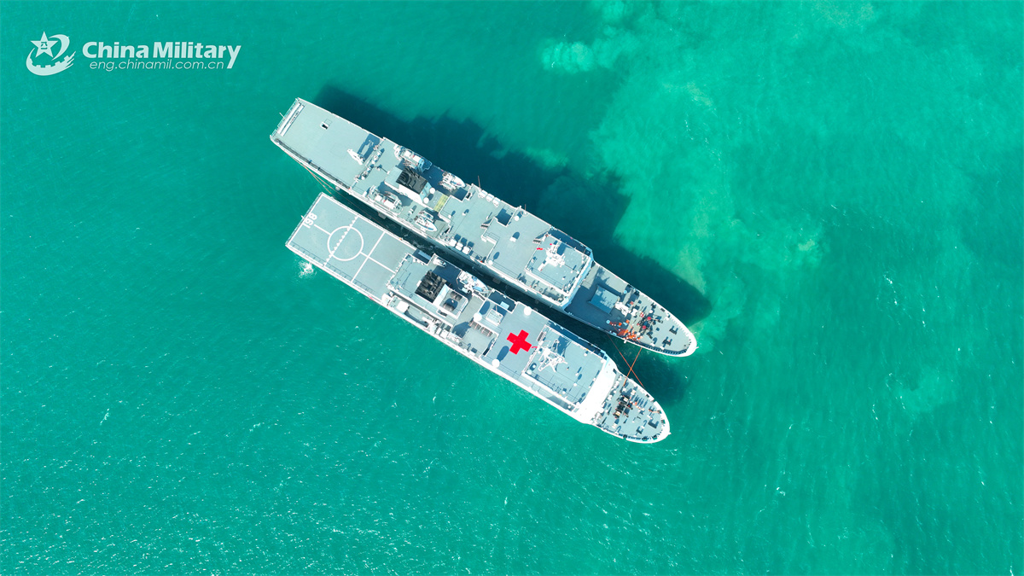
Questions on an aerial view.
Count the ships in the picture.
2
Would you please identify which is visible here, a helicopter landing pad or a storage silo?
helicopter landing pad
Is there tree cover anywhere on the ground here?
No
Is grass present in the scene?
No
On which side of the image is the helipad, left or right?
left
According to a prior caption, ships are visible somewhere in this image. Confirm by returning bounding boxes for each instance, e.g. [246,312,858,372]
[269,99,698,357]
[282,193,671,444]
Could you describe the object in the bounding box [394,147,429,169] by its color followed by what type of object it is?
white boat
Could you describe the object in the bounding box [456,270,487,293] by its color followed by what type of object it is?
white boat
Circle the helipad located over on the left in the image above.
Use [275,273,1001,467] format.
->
[287,195,413,301]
